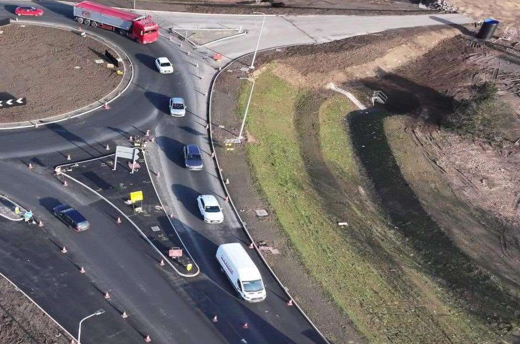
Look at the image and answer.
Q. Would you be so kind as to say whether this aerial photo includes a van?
Yes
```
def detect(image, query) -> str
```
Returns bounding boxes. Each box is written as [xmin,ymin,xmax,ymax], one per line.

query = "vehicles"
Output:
[75,0,174,41]
[170,93,186,114]
[219,228,272,299]
[52,200,93,231]
[183,141,203,168]
[155,54,172,71]
[15,3,43,17]
[196,191,224,222]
